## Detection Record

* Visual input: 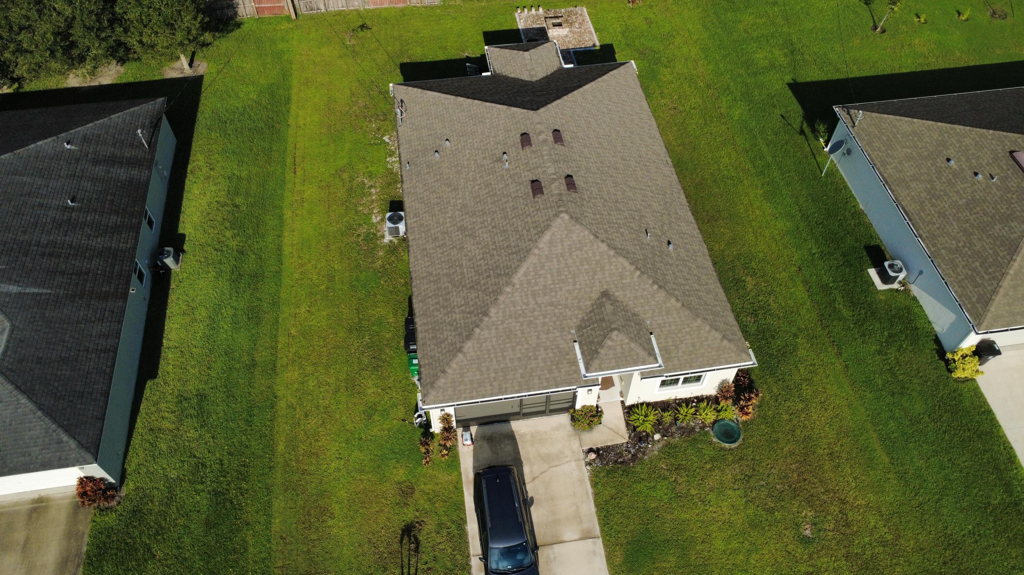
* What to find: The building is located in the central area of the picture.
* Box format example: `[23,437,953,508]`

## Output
[389,39,759,433]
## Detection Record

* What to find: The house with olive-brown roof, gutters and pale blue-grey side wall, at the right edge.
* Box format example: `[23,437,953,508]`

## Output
[824,85,1024,362]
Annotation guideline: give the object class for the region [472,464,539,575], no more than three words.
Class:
car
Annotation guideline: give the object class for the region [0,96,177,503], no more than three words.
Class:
house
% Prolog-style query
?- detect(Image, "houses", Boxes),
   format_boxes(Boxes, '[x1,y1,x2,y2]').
[0,96,177,503]
[389,39,759,433]
[824,85,1024,362]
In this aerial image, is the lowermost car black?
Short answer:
Yes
